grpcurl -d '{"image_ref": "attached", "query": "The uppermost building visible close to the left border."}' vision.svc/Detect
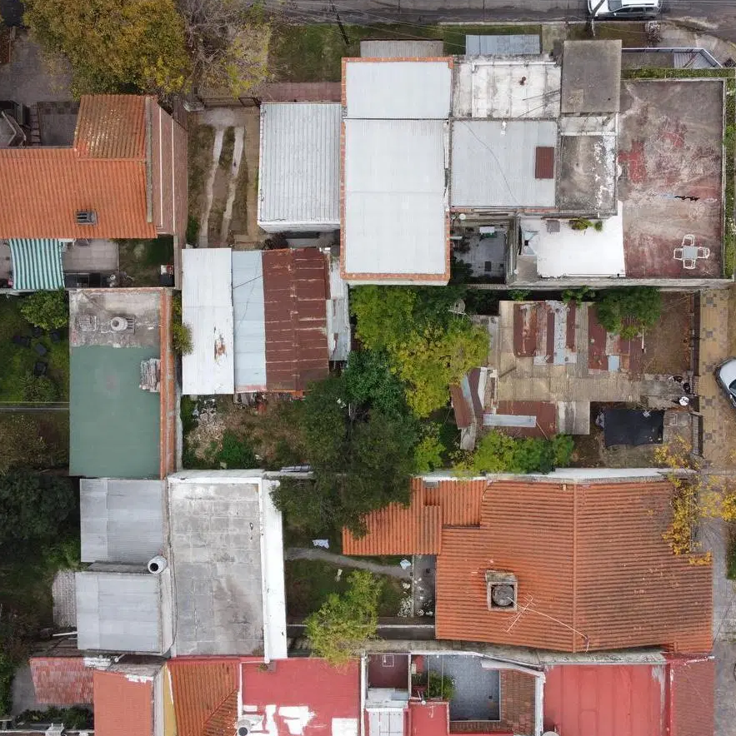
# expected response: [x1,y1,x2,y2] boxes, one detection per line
[0,94,187,252]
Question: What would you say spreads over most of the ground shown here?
buildings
